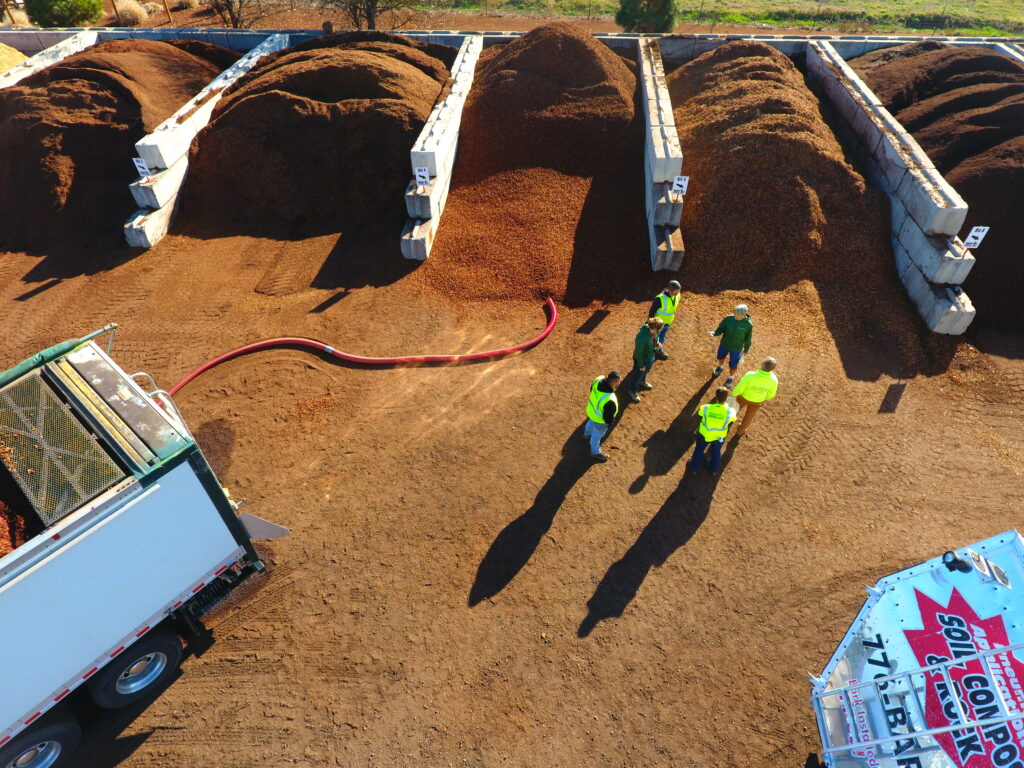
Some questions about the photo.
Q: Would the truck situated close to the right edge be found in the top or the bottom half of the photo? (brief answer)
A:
bottom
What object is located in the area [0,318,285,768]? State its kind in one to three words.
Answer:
trailer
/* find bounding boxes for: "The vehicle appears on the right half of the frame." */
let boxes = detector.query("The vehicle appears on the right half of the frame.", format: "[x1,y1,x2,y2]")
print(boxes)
[806,533,1024,768]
